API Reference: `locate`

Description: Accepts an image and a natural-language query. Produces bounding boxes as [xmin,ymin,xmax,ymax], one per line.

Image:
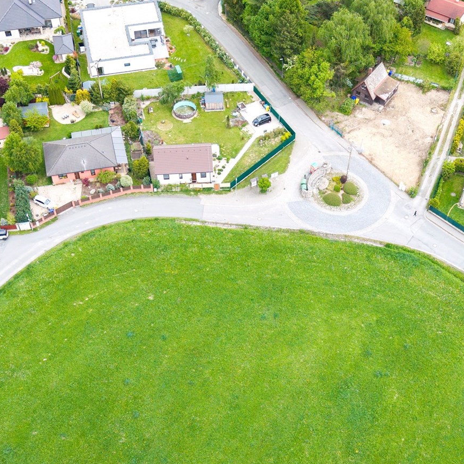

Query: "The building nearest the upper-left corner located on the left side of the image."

[0,0,66,50]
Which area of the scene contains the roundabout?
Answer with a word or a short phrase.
right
